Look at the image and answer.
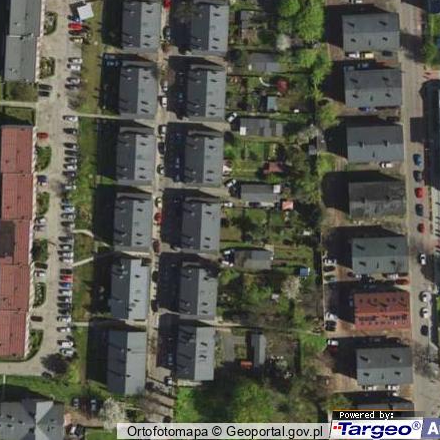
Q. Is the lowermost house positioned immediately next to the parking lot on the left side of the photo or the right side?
left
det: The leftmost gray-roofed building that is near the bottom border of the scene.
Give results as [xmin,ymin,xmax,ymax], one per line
[0,399,64,440]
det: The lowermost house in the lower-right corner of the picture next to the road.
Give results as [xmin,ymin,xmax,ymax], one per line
[356,402,414,440]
